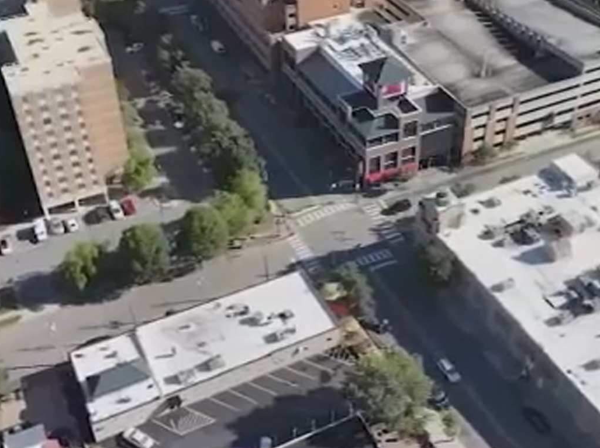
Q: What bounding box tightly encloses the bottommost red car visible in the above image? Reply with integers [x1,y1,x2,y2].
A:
[121,195,136,216]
